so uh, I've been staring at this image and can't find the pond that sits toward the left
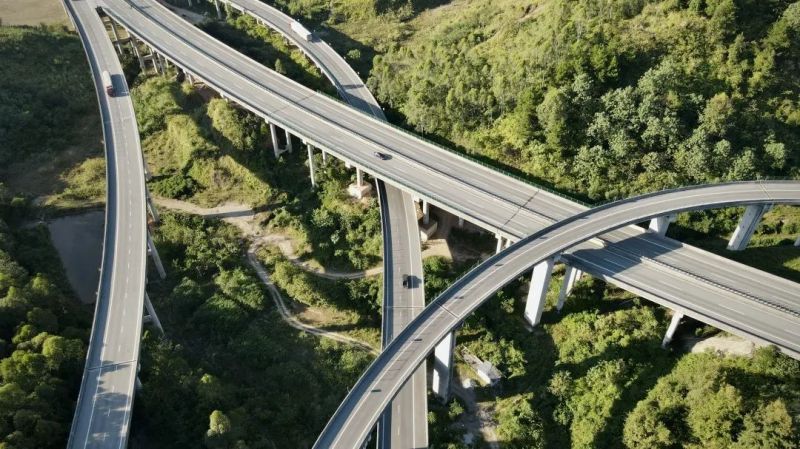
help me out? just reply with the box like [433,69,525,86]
[53,211,105,295]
